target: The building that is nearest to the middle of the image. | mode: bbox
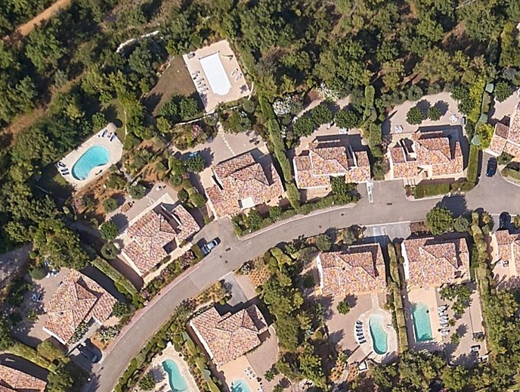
[209,158,285,217]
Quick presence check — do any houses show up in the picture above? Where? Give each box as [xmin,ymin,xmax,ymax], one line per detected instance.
[291,139,370,189]
[118,207,203,270]
[190,307,268,367]
[487,104,520,163]
[494,233,520,289]
[391,134,464,180]
[209,158,285,217]
[318,245,386,294]
[402,238,470,285]
[43,270,117,334]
